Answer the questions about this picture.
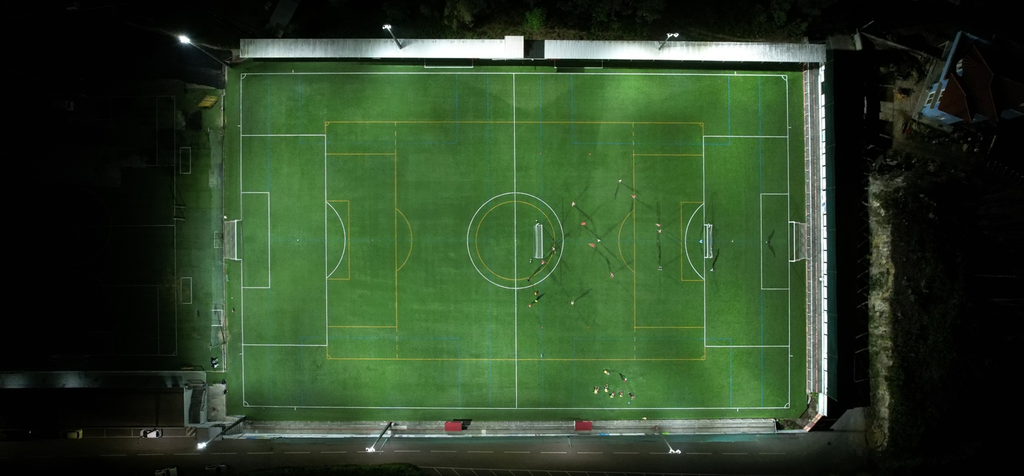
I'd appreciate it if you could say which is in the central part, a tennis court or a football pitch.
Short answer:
football pitch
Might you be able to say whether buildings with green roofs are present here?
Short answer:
No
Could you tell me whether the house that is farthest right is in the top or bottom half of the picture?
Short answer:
top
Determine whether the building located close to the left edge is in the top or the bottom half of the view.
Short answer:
bottom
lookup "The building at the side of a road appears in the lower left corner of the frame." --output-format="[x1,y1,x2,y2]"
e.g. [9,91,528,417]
[0,385,191,426]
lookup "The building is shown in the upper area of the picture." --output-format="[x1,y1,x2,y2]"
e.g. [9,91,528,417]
[925,31,1024,128]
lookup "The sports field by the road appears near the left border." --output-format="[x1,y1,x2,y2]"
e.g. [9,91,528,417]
[0,88,224,371]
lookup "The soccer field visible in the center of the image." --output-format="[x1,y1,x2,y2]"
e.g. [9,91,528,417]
[225,60,806,422]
